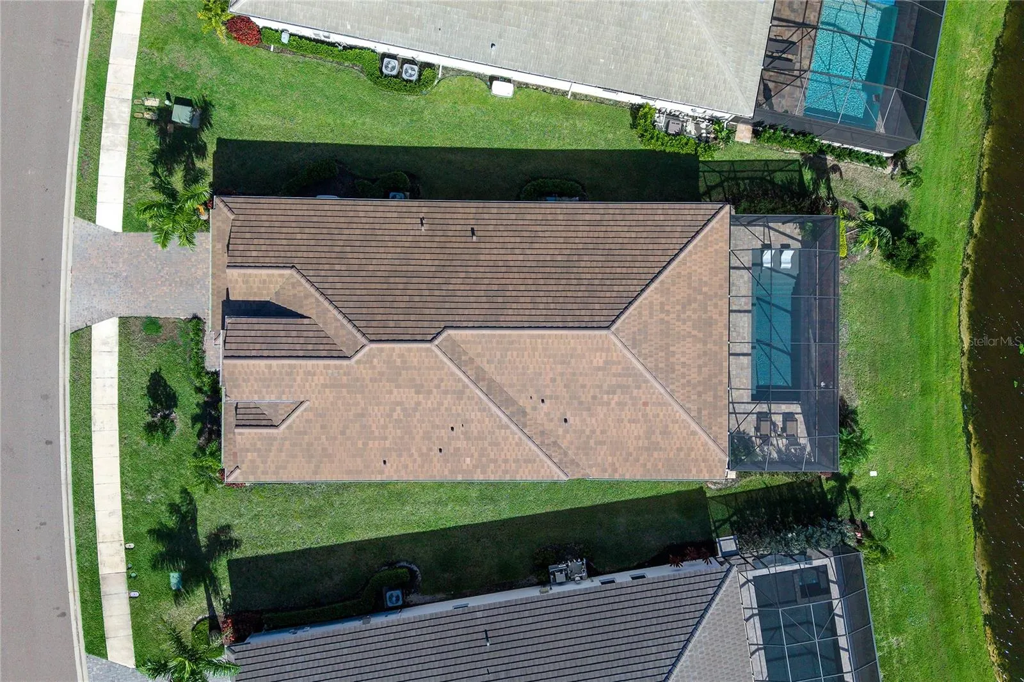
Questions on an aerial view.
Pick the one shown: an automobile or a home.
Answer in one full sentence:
There is a home in the scene.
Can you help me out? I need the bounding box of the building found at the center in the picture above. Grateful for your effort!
[211,197,731,484]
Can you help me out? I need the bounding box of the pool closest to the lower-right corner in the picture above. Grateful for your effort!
[750,560,848,682]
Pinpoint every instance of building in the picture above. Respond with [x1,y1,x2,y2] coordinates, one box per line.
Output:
[228,0,774,120]
[224,557,753,682]
[211,197,731,484]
